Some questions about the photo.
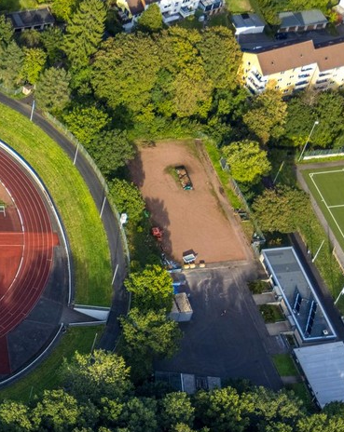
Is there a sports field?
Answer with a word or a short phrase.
Yes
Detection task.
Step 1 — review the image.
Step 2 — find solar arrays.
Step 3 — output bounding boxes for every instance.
[306,301,320,329]
[294,296,306,313]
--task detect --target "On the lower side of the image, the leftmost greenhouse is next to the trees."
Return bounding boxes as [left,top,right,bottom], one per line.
[153,369,181,397]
